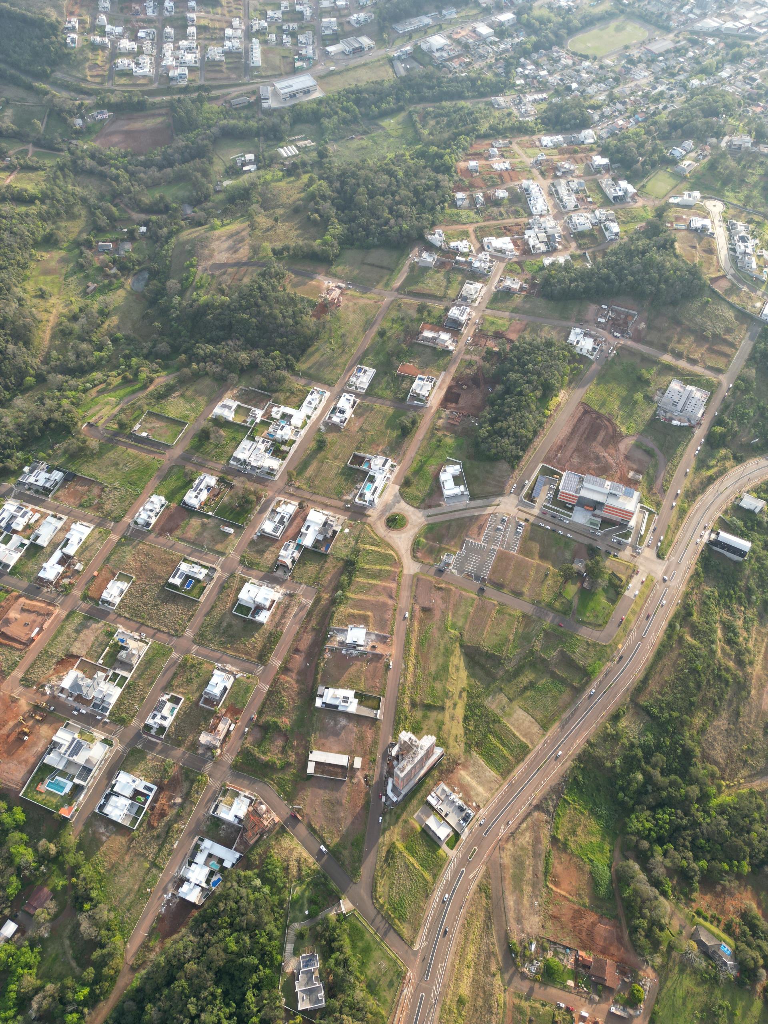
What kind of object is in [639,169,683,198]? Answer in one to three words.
sports field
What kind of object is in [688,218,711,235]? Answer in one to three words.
house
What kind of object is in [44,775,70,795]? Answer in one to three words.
swimming pool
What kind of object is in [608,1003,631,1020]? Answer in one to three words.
vehicle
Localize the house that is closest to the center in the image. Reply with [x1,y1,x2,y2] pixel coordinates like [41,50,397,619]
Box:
[364,455,394,506]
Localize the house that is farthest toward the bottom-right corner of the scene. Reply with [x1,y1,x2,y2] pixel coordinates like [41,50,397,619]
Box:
[688,924,740,973]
